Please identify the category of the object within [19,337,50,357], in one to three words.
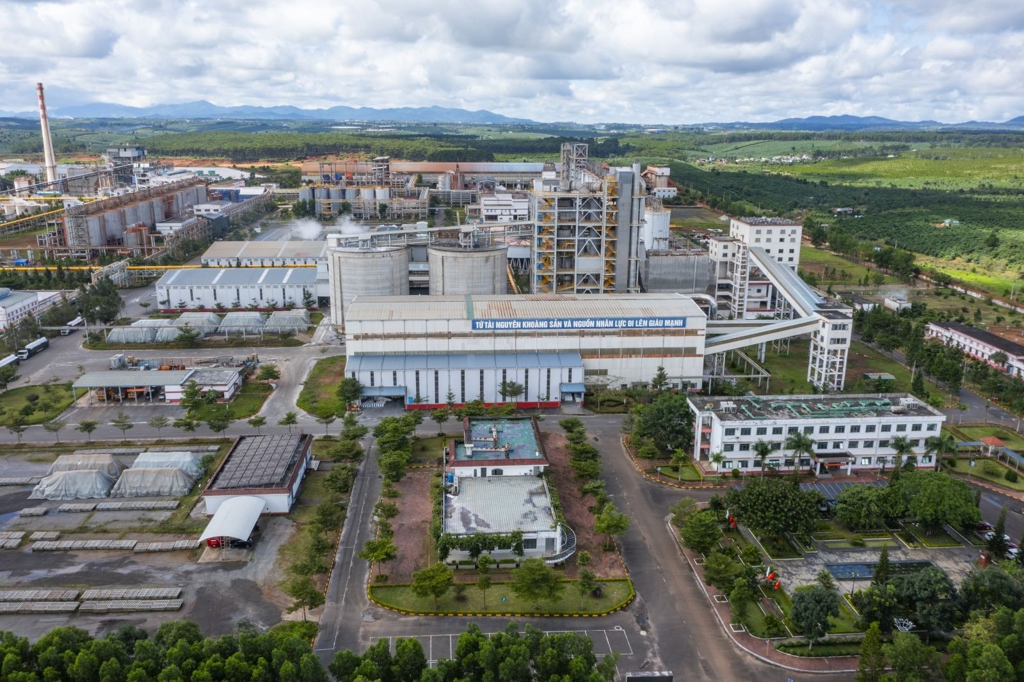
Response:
vehicle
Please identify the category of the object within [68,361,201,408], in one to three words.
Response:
shed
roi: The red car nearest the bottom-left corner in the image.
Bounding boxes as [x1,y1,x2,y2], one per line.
[205,536,223,550]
